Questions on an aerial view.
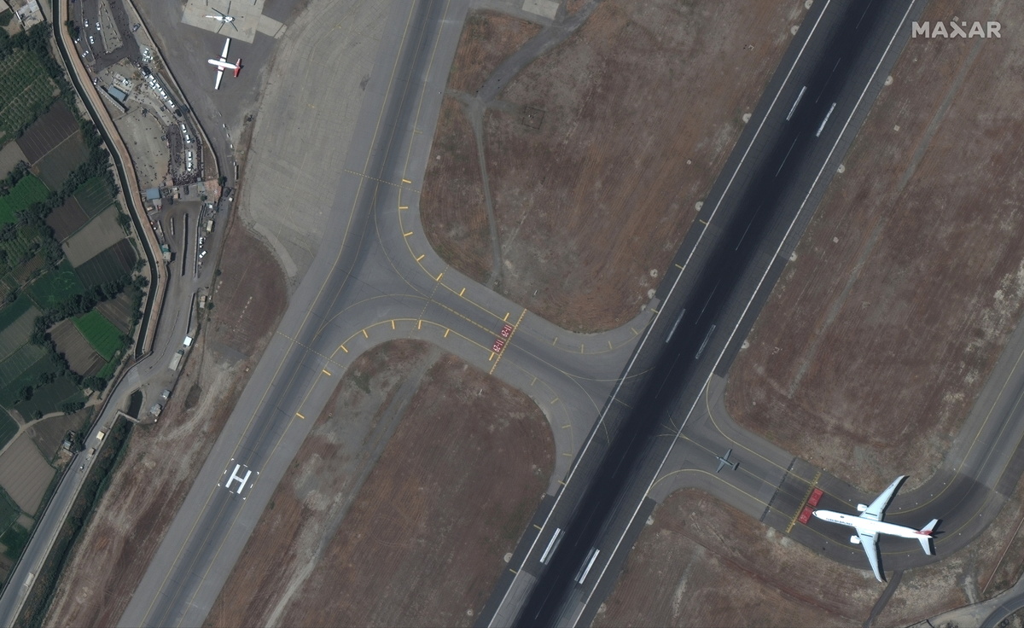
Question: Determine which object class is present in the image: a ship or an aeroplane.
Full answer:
The one in the frame is an aeroplane.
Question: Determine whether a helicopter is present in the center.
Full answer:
No, in the center there is no helicopter.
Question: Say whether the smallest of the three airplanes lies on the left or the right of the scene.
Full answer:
You can find the smallest of the three airplanes on the right side of the picture.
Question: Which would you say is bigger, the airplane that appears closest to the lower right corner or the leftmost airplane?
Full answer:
Of the two, the airplane that appears closest to the lower right corner is bigger, while the leftmost airplane is smaller.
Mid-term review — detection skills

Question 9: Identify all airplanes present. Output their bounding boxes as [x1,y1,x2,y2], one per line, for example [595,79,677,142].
[717,448,737,472]
[208,38,242,88]
[812,476,938,582]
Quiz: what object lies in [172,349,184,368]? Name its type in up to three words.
vehicle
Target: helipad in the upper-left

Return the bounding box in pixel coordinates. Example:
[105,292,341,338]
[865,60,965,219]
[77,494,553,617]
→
[181,0,287,43]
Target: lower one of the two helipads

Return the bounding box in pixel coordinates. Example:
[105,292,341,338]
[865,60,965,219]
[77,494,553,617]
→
[219,459,259,500]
